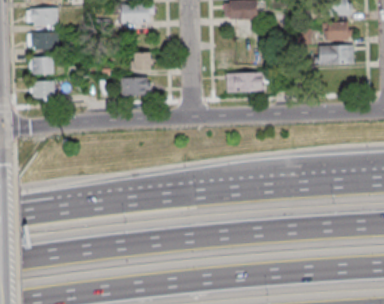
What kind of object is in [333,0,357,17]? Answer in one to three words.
house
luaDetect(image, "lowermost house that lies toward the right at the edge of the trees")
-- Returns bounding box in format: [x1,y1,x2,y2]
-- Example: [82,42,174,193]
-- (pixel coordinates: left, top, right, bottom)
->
[226,73,266,94]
